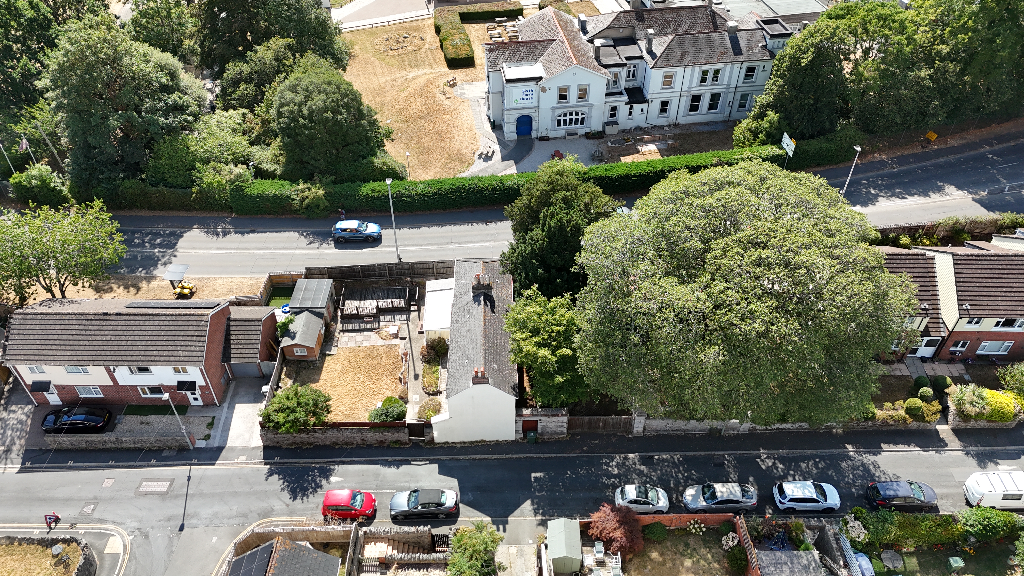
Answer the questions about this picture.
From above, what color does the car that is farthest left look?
black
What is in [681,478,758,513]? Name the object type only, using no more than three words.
car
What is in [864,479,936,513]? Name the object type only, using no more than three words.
car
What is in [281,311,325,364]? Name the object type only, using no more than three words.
shed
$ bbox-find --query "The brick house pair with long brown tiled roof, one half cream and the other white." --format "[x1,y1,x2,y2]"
[2,298,278,407]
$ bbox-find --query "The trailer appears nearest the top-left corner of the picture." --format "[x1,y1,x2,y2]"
[162,264,208,298]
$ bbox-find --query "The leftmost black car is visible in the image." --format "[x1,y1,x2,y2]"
[45,402,117,433]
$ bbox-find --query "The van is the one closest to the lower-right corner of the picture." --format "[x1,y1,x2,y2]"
[965,468,1024,510]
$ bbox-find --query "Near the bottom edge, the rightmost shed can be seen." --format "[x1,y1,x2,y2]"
[547,518,582,571]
